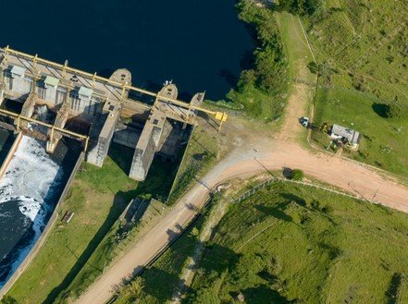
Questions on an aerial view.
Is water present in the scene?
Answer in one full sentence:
Yes, water shows up in the scene.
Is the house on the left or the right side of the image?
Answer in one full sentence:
The house appears in the right half of the scene.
